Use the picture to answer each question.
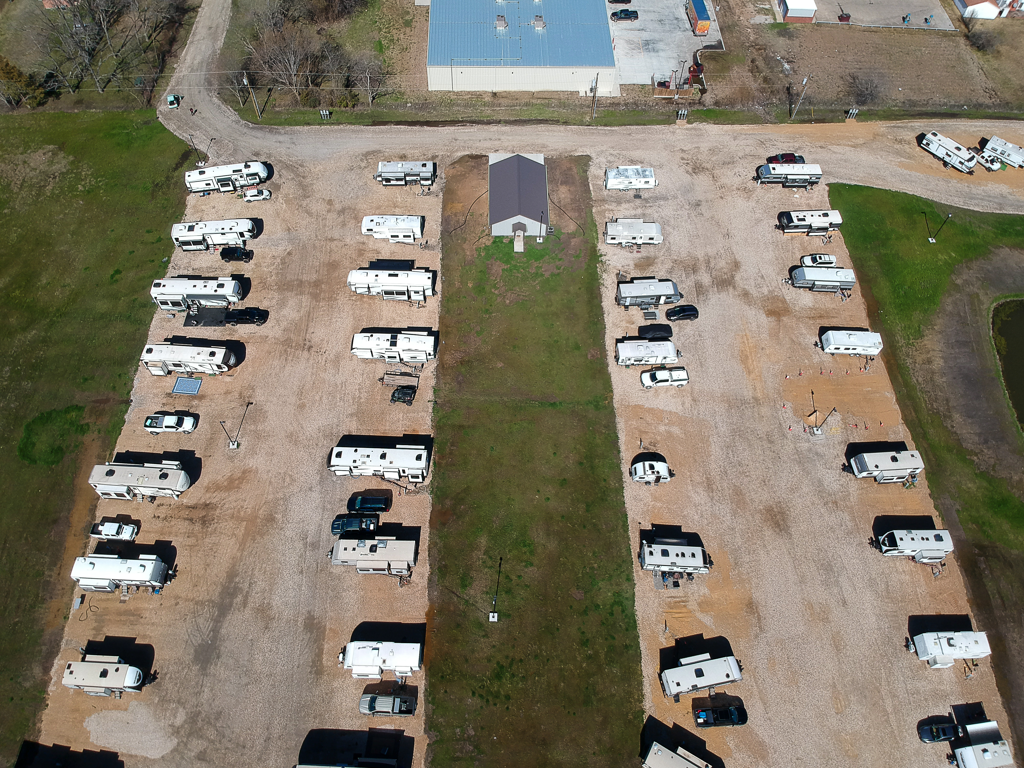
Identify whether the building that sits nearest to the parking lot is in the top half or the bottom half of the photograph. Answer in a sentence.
The top half of the photo is where the building that sits nearest to the parking lot is.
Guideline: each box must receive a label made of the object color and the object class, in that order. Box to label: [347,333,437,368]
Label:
white camper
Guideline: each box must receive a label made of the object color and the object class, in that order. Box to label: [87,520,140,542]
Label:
white truck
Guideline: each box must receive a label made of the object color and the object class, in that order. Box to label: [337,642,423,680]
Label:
white vehicle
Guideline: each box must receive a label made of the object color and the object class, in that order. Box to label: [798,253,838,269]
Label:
white car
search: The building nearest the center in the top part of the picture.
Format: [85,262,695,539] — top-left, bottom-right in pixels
[487,156,550,240]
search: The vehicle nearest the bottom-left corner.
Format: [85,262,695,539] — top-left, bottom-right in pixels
[62,651,164,701]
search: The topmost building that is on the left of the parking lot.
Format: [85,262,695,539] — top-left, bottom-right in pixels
[425,0,617,91]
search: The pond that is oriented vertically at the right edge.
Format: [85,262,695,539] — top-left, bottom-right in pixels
[992,296,1024,434]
